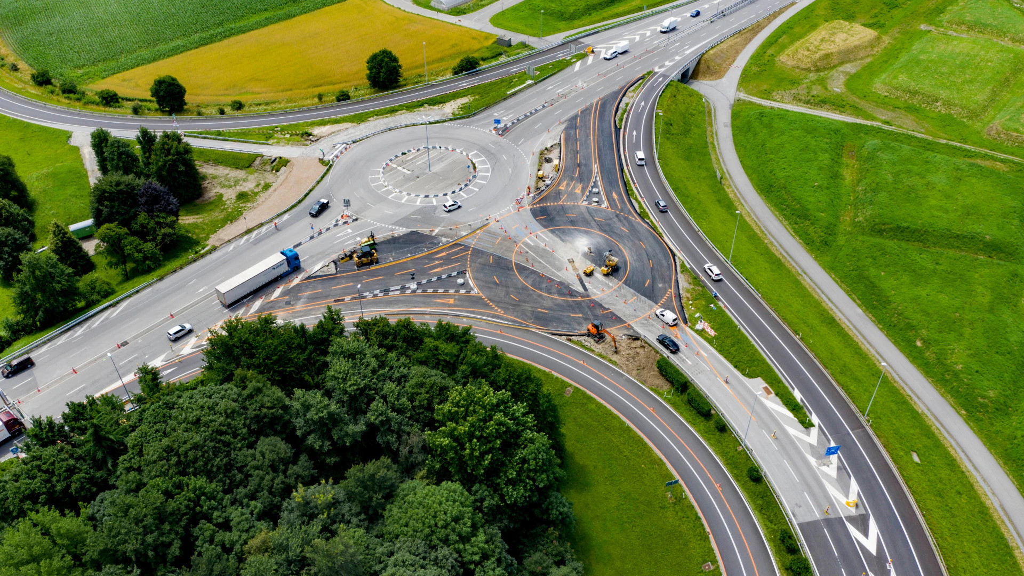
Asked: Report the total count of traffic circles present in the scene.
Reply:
2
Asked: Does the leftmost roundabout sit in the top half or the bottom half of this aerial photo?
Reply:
top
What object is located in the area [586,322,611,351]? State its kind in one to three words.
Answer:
work vehicle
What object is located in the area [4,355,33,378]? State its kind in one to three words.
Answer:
vehicle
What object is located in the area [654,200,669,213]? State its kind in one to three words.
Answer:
vehicle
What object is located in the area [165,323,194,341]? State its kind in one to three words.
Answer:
car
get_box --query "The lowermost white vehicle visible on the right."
[655,310,678,327]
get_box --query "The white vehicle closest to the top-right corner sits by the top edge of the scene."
[661,16,677,31]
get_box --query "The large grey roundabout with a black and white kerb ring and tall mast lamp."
[380,145,479,197]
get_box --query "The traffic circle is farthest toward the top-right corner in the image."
[547,228,627,279]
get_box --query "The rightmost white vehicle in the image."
[702,265,723,281]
